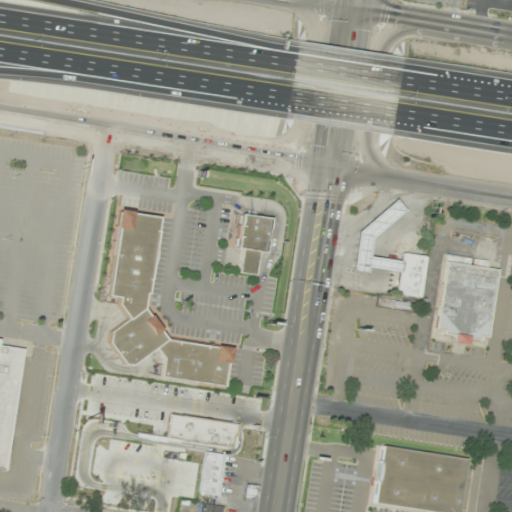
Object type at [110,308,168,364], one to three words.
building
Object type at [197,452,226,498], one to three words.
building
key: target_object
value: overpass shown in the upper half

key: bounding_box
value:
[290,38,404,134]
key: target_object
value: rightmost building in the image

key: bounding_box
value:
[430,254,502,346]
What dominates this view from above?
paved ground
